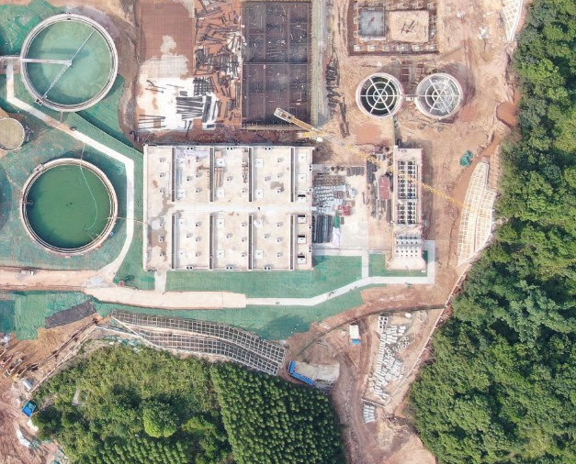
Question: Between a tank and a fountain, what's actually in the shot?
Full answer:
The image shows a tank.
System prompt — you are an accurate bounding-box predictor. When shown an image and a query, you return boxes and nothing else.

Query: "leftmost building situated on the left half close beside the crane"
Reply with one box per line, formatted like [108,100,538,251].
[141,146,315,271]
